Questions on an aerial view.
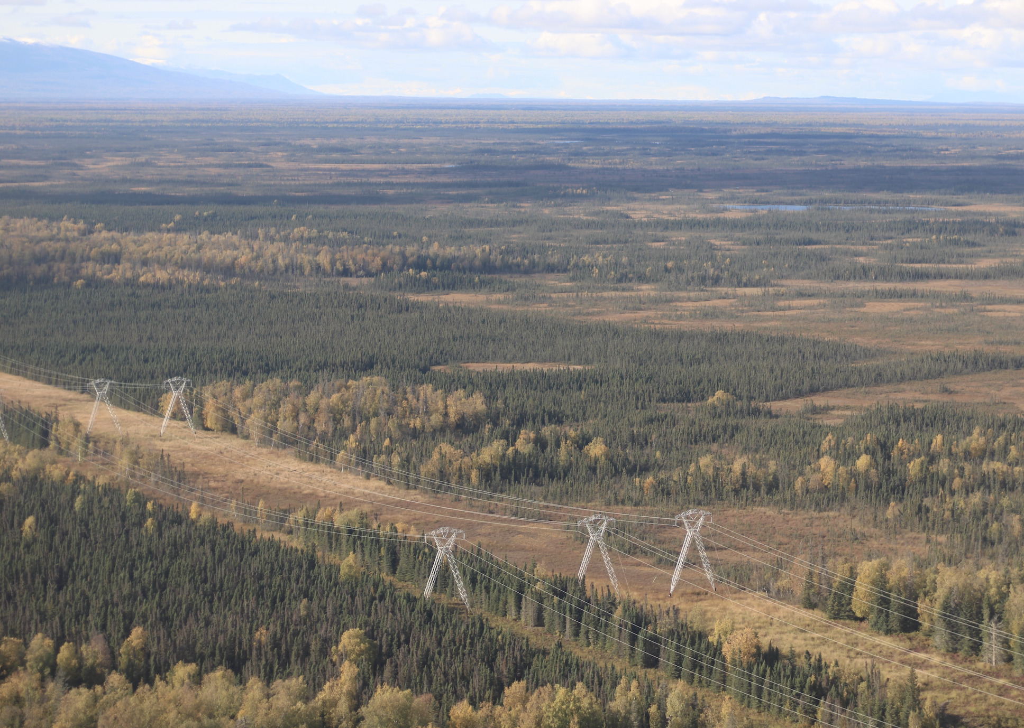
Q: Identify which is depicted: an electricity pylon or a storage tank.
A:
electricity pylon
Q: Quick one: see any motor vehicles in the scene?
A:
No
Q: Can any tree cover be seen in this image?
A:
Yes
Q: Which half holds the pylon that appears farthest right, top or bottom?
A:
bottom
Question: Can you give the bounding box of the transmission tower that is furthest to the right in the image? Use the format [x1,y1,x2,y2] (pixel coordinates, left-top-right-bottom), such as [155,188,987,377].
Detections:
[669,508,728,595]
